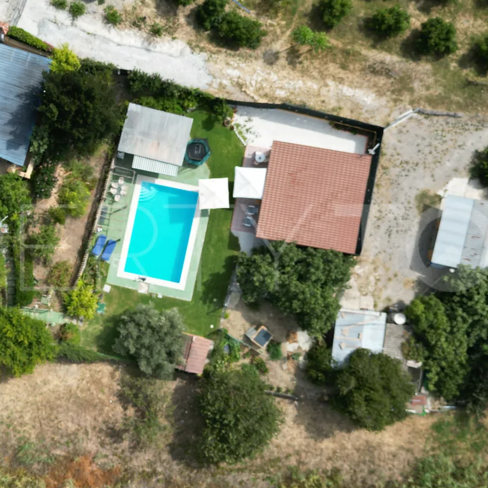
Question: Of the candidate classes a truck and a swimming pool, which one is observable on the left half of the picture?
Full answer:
There is a swimming pool on the left half of the picture.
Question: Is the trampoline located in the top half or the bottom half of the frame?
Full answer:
The trampoline is in the top half of the image.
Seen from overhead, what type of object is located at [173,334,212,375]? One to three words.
shed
